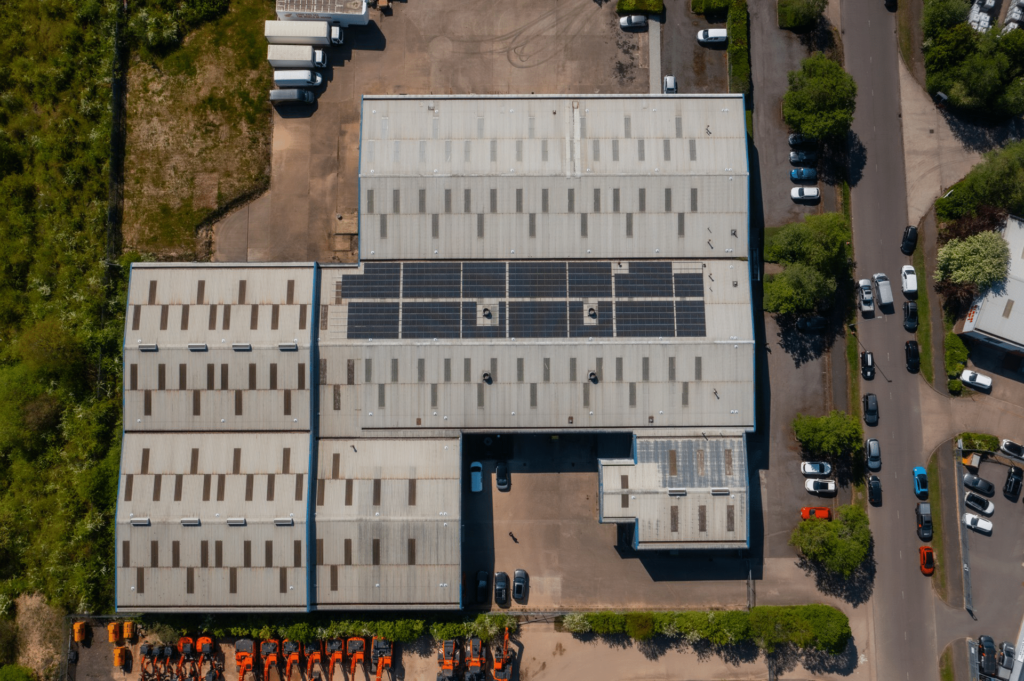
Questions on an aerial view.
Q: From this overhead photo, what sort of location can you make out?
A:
industrial area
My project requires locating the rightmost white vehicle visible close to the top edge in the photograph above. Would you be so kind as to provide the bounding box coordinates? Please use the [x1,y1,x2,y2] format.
[697,27,729,44]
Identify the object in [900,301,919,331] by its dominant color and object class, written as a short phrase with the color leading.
black car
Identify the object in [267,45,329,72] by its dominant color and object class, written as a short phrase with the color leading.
white truck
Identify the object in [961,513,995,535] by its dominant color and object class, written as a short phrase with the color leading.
white car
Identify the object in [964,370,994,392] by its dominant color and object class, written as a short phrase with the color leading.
white car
